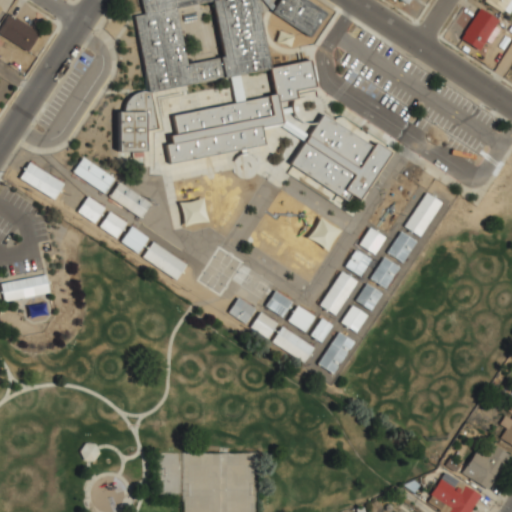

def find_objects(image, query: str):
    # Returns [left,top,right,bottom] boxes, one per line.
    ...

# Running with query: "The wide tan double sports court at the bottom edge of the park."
[184,454,256,512]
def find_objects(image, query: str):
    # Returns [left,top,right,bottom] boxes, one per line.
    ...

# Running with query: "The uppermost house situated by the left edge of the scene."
[0,14,38,52]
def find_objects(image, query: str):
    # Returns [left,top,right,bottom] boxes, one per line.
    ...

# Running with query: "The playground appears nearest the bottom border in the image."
[86,475,128,512]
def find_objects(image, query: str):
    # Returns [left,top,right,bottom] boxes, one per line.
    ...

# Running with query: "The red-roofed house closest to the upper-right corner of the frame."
[462,8,500,50]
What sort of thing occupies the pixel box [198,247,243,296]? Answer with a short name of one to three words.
basketball court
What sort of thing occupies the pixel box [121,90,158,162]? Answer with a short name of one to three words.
building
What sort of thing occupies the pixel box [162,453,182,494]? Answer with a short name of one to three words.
sports court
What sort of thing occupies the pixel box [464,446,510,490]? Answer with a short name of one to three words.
house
